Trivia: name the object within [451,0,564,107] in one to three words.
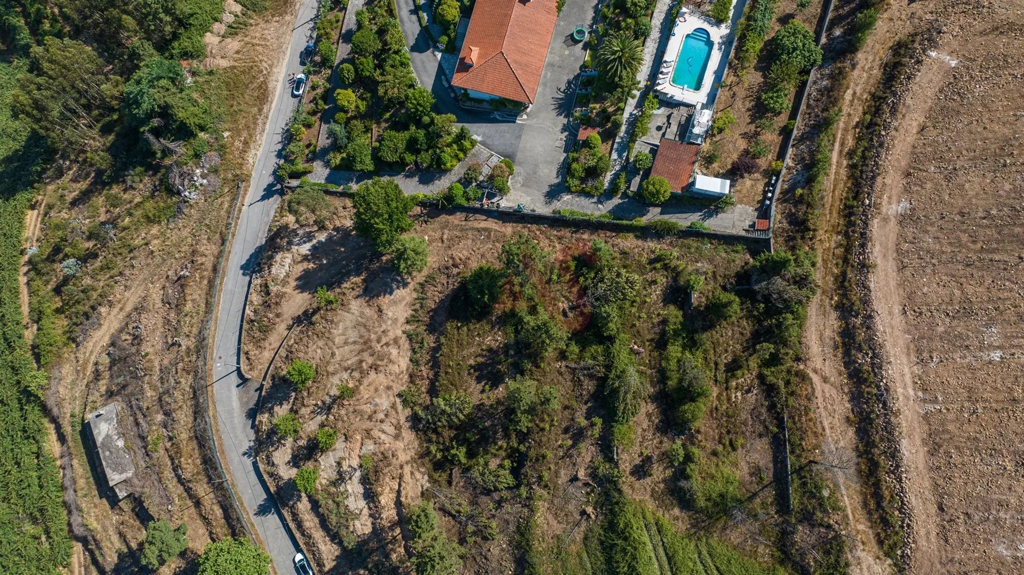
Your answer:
house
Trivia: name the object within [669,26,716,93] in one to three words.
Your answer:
swimming pool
